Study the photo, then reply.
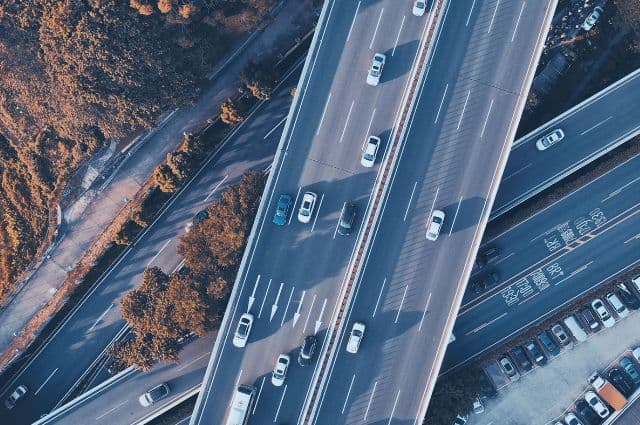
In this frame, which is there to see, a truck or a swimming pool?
truck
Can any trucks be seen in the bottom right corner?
Yes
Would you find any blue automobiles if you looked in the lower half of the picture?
Yes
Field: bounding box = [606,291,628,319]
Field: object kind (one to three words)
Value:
vehicle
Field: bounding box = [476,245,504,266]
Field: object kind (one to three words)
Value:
car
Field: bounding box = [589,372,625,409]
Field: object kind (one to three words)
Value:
truck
